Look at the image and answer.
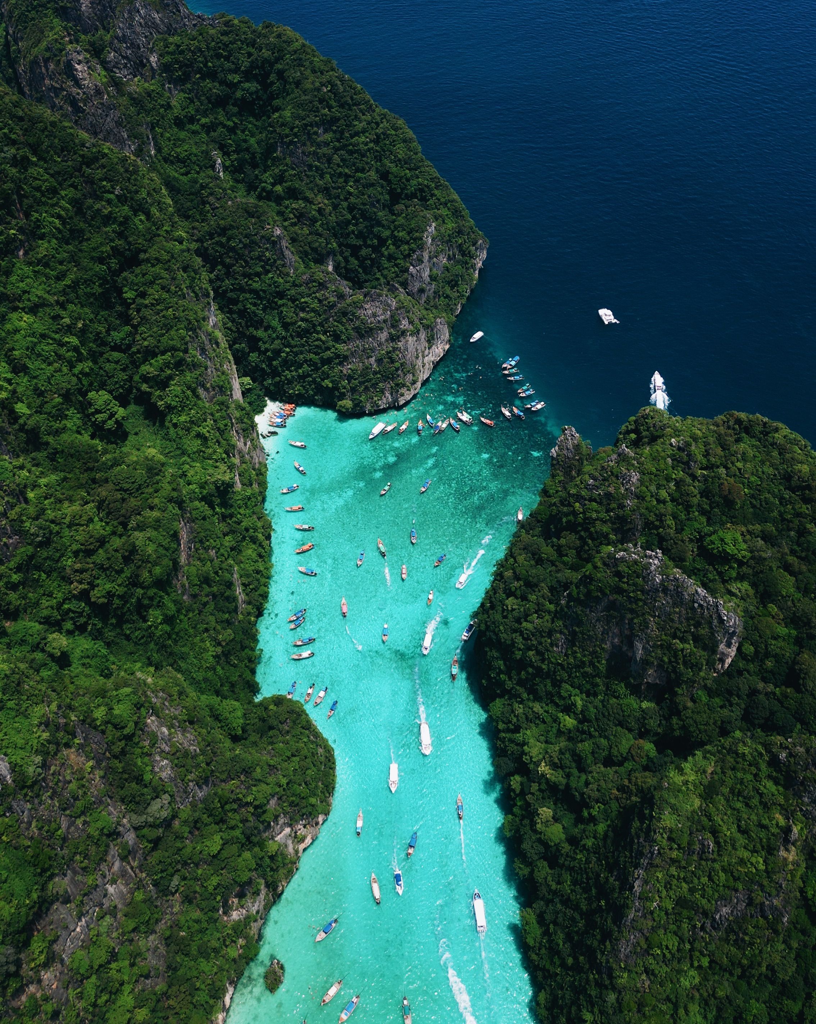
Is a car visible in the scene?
No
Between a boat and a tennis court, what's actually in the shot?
boat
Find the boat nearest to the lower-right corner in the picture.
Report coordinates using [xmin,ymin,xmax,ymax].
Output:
[473,887,487,933]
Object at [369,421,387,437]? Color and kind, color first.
white boat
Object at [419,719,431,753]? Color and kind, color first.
white boat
